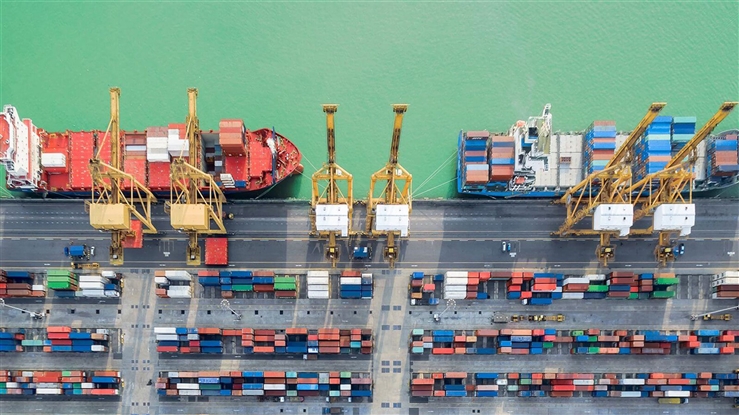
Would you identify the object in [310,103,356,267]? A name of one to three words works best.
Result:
container crane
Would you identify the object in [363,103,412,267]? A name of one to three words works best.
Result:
container crane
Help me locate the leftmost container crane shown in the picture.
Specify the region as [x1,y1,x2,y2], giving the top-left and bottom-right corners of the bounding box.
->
[89,87,158,267]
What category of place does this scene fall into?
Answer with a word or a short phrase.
port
